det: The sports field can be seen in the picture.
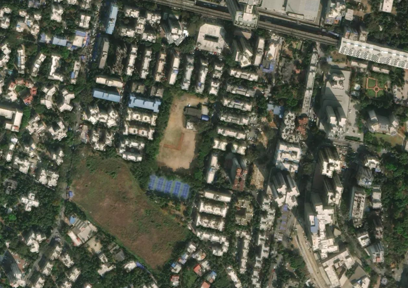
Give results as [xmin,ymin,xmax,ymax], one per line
[158,98,195,168]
